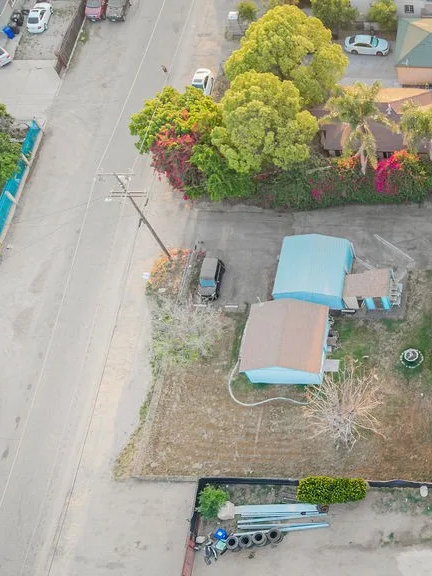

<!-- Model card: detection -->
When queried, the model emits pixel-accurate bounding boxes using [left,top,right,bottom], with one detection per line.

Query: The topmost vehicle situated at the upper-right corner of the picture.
[343,35,389,57]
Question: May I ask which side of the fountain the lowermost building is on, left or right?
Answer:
to the left of it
